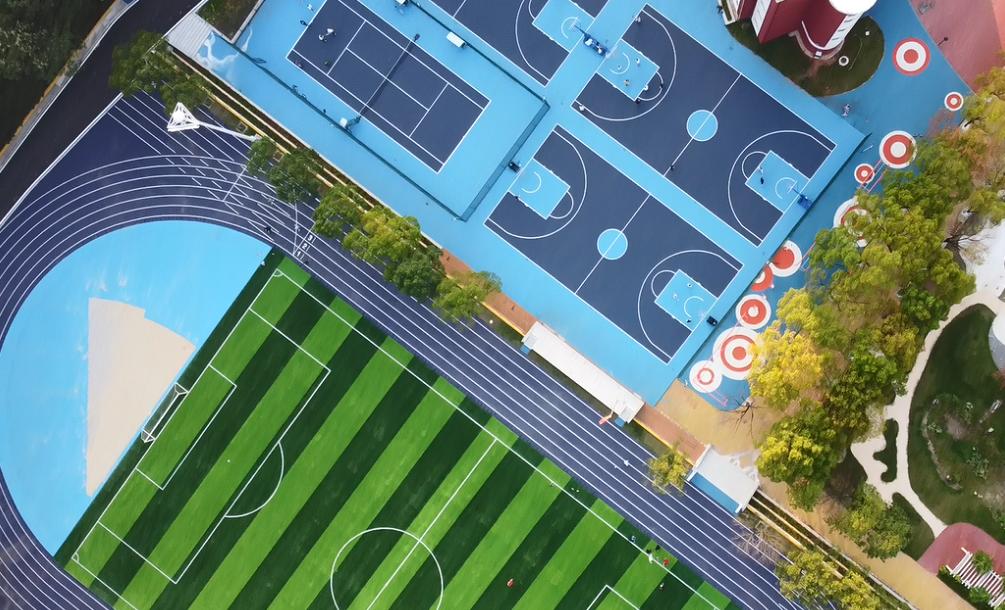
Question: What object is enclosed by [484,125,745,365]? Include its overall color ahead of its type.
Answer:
blue basketball court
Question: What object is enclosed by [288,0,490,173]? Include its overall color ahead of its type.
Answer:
blue tennis court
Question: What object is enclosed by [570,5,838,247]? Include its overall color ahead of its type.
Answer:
blue basketball court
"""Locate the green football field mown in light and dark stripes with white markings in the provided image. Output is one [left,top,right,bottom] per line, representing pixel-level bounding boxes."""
[54,248,743,610]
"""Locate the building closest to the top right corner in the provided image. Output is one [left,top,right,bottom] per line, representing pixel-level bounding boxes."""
[732,0,874,58]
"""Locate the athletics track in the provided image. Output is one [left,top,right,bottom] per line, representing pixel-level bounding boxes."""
[0,79,862,610]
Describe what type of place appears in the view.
sports ground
